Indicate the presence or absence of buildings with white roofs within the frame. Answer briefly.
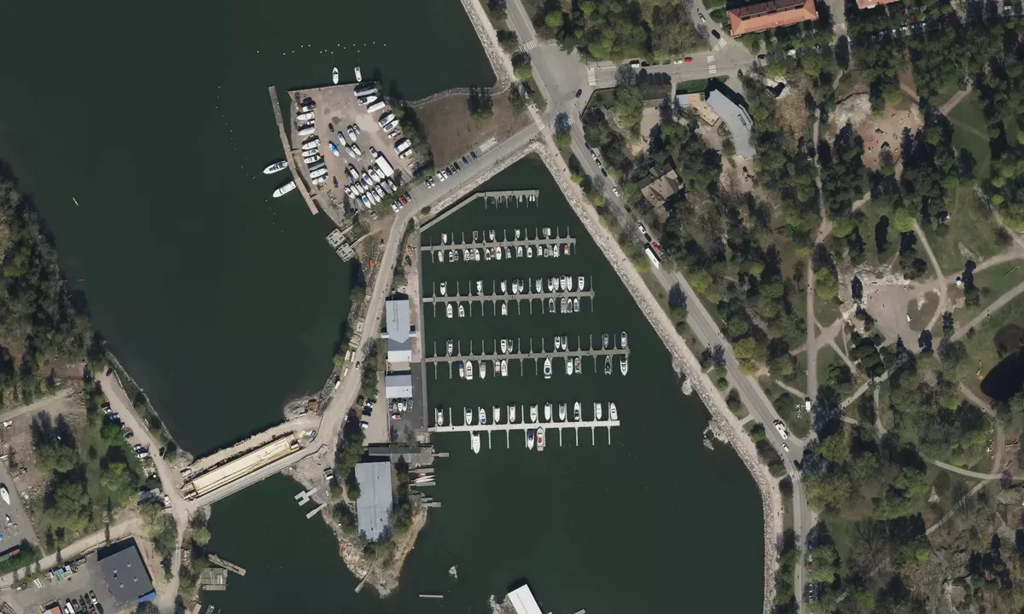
Yes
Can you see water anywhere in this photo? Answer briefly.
Yes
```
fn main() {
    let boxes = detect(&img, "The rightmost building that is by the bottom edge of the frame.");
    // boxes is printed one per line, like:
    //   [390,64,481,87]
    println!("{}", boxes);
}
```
[508,584,542,614]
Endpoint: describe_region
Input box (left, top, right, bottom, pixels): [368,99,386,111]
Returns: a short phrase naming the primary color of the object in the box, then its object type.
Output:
white boat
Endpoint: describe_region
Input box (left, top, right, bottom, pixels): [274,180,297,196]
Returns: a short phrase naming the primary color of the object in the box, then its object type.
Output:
white boat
